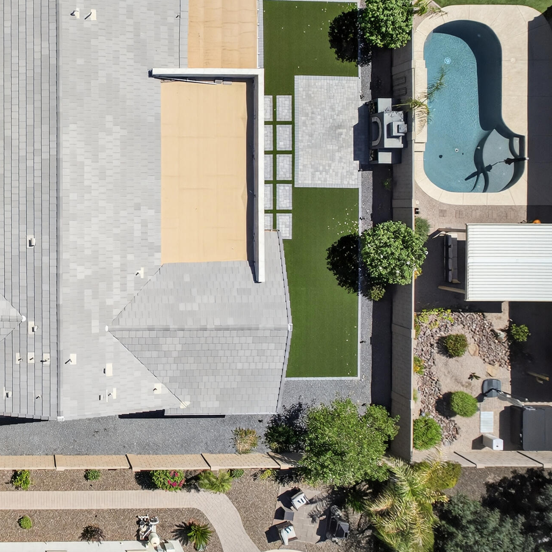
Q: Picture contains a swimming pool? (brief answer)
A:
Yes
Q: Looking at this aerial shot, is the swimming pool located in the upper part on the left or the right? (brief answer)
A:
right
